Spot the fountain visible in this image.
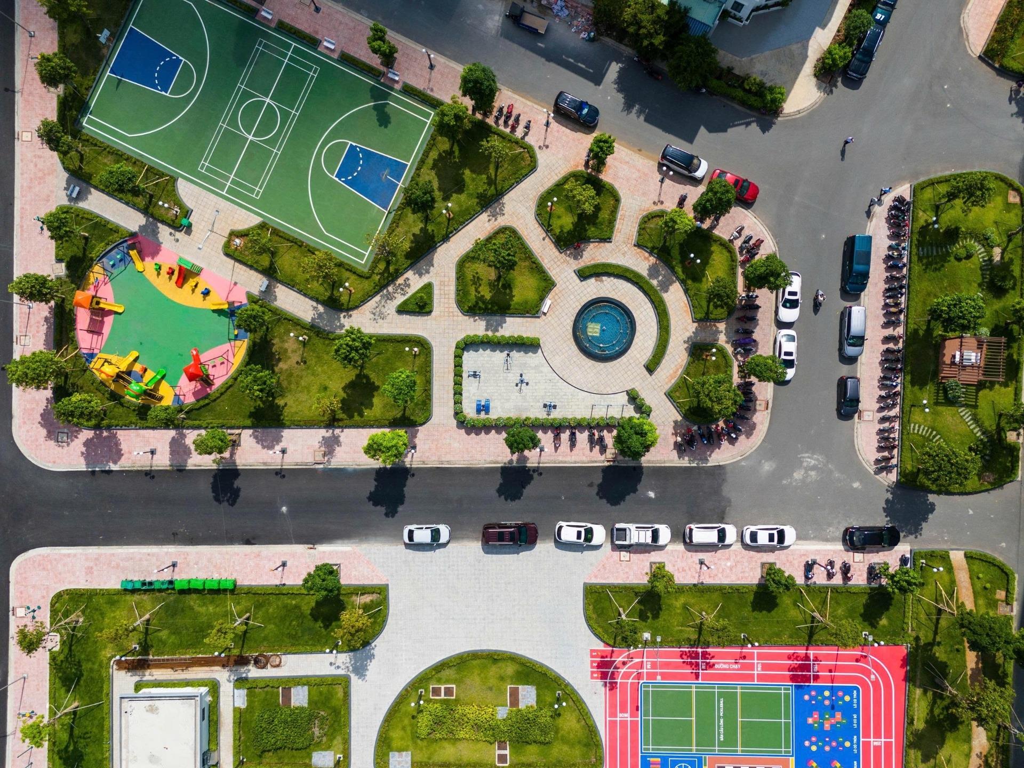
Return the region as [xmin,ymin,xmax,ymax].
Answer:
[572,297,636,361]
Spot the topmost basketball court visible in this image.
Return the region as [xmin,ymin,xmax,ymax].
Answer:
[79,0,436,269]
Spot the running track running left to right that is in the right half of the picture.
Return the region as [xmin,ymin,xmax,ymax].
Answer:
[590,642,909,768]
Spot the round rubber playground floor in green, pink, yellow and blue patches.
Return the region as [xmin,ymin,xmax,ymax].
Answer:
[74,235,247,406]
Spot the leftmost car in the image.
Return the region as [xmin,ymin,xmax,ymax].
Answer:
[403,523,451,547]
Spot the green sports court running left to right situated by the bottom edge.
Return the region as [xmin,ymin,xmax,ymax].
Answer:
[641,683,793,757]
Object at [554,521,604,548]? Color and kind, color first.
white car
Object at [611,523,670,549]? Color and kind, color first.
white truck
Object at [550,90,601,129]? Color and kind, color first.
black car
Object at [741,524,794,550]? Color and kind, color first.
white car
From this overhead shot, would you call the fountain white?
No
